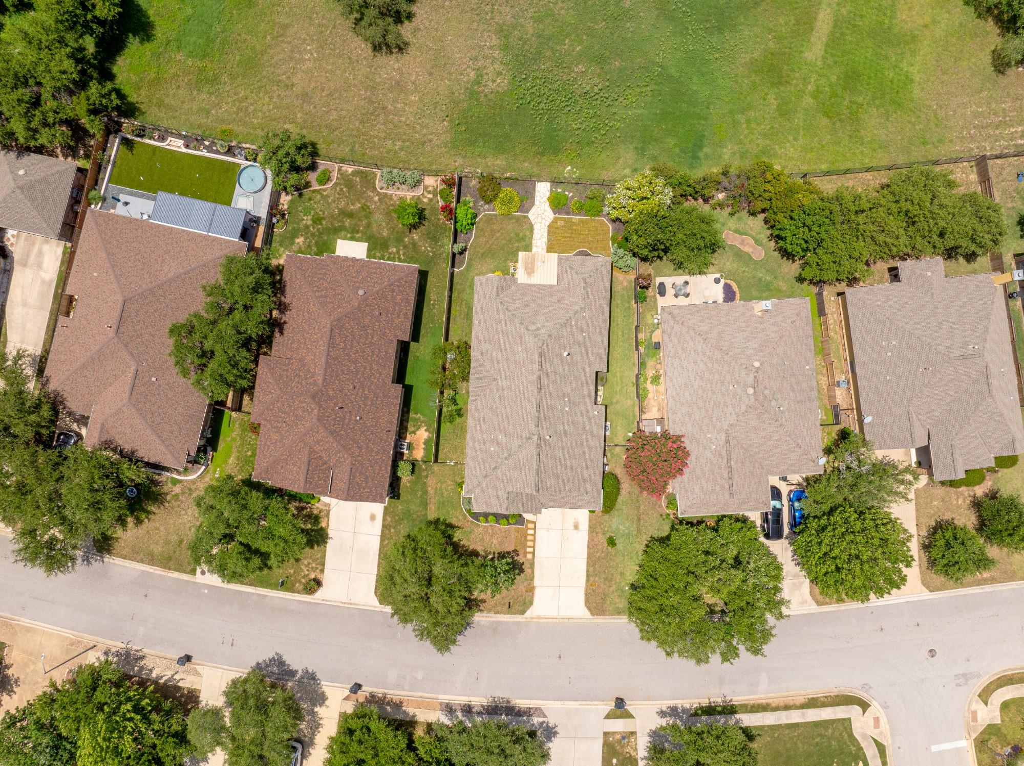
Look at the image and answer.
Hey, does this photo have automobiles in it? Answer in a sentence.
Yes, the photo shows an automobile.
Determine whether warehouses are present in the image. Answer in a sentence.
No, I can't see a single warehouse in this photo.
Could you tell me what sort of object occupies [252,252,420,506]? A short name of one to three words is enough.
house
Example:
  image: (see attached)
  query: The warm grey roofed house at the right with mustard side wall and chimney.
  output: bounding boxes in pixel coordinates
[836,256,1024,481]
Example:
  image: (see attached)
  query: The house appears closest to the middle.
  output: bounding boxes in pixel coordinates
[462,254,612,515]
